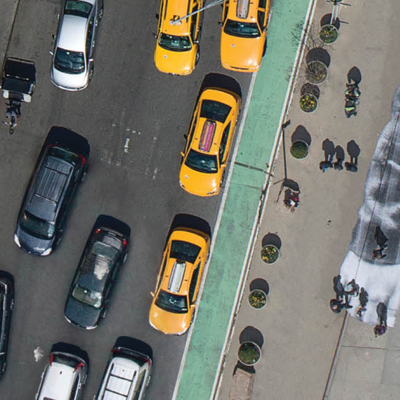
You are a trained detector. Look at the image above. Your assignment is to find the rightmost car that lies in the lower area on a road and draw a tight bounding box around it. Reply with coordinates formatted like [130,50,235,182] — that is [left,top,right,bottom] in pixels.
[146,226,211,337]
